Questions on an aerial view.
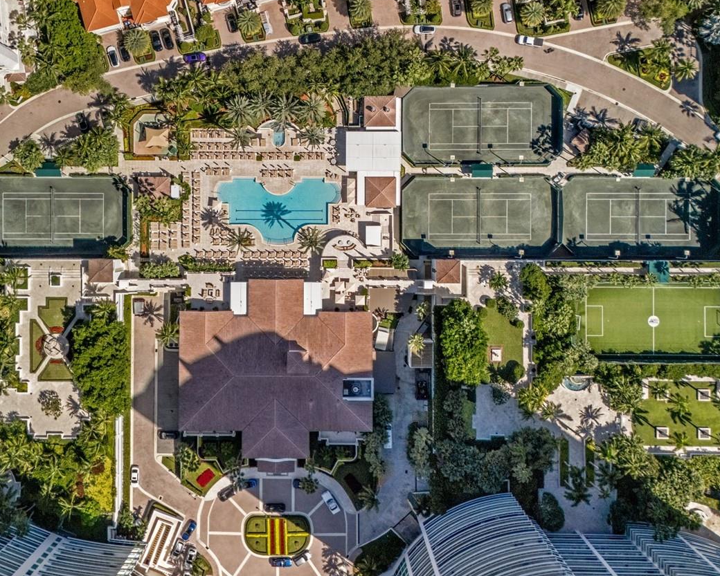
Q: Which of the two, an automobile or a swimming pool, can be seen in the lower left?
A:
automobile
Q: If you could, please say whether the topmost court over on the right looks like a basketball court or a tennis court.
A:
tennis court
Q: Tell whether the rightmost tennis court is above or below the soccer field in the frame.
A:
above it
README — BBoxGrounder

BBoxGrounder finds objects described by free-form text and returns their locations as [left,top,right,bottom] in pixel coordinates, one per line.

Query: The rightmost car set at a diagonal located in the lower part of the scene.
[322,494,341,515]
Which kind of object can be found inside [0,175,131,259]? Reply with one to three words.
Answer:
tennis court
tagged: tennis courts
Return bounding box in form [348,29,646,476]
[402,82,568,166]
[562,176,720,259]
[401,176,562,259]
[0,175,131,259]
